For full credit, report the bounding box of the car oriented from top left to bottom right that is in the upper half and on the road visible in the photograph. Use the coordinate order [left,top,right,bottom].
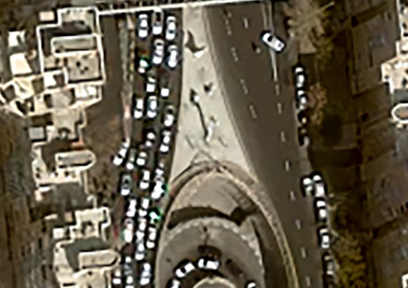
[262,33,285,51]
